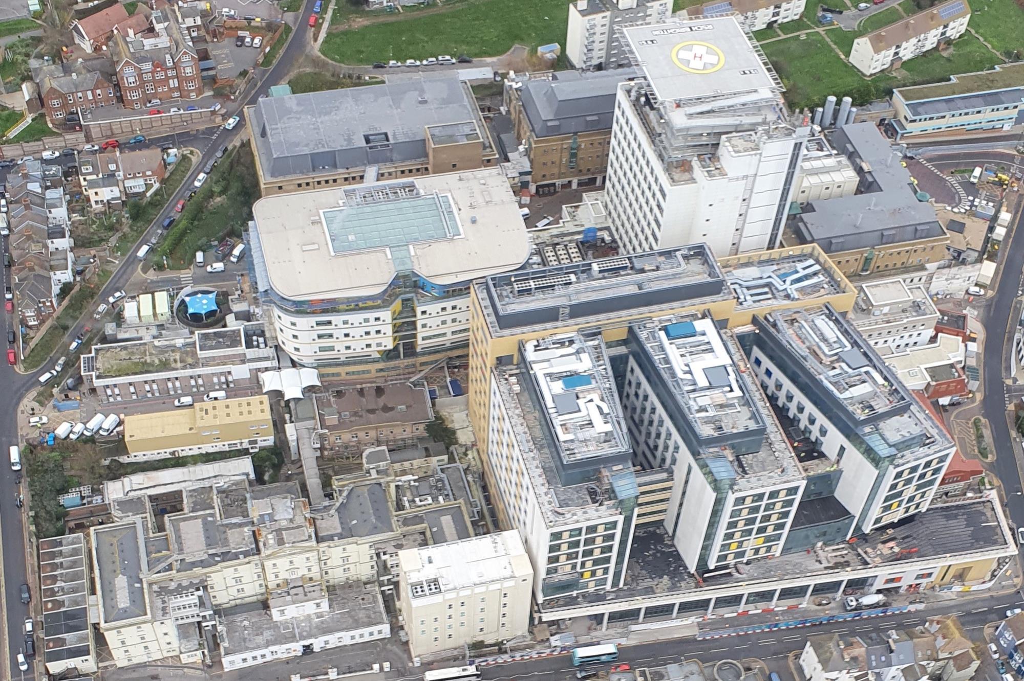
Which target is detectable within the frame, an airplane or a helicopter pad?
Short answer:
helicopter pad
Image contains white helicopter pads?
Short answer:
Yes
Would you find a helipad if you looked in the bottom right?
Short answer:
No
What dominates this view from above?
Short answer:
buildings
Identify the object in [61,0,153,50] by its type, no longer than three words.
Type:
building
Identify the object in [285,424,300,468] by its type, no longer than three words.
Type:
shed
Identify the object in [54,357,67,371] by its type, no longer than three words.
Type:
vehicle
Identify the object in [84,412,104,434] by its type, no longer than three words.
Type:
vehicle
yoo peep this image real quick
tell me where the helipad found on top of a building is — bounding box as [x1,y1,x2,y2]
[614,12,786,132]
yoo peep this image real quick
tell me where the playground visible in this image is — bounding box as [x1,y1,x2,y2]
[169,282,228,330]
